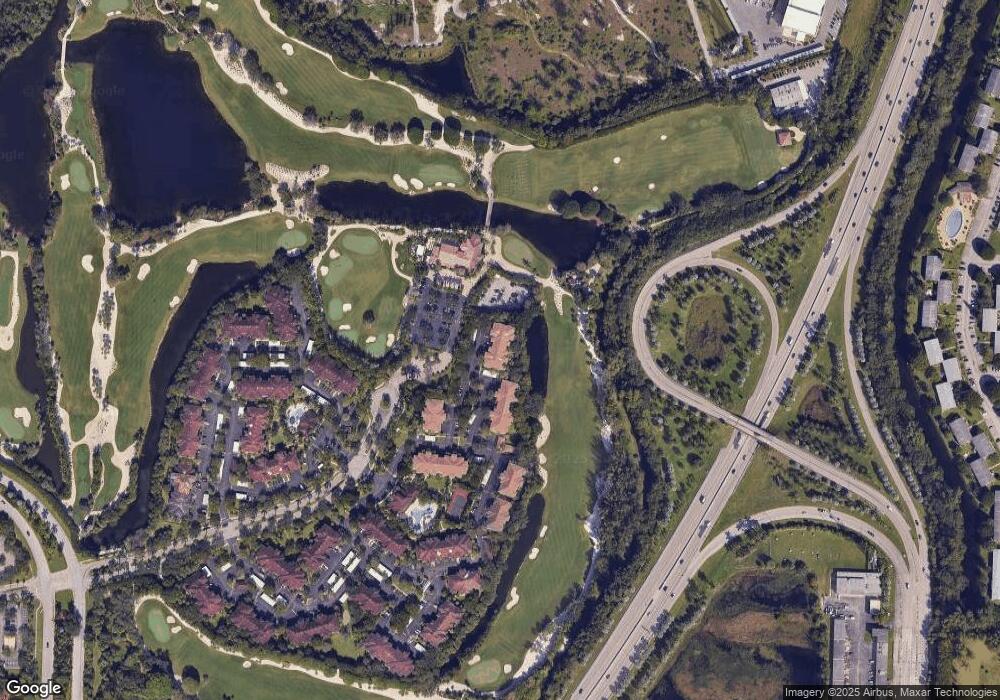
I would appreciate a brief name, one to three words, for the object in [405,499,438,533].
swimming pool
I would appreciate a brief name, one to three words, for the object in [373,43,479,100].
pond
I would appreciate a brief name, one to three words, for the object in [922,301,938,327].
house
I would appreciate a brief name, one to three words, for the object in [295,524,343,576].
building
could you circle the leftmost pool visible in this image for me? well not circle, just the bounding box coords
[284,402,309,432]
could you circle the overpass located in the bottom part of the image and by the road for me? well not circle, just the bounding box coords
[678,388,857,485]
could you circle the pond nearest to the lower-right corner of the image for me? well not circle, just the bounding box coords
[779,647,823,699]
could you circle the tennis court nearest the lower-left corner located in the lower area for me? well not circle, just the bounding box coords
[444,485,472,516]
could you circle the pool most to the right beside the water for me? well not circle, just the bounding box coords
[938,194,979,248]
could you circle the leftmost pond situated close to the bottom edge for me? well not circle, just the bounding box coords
[440,493,545,675]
